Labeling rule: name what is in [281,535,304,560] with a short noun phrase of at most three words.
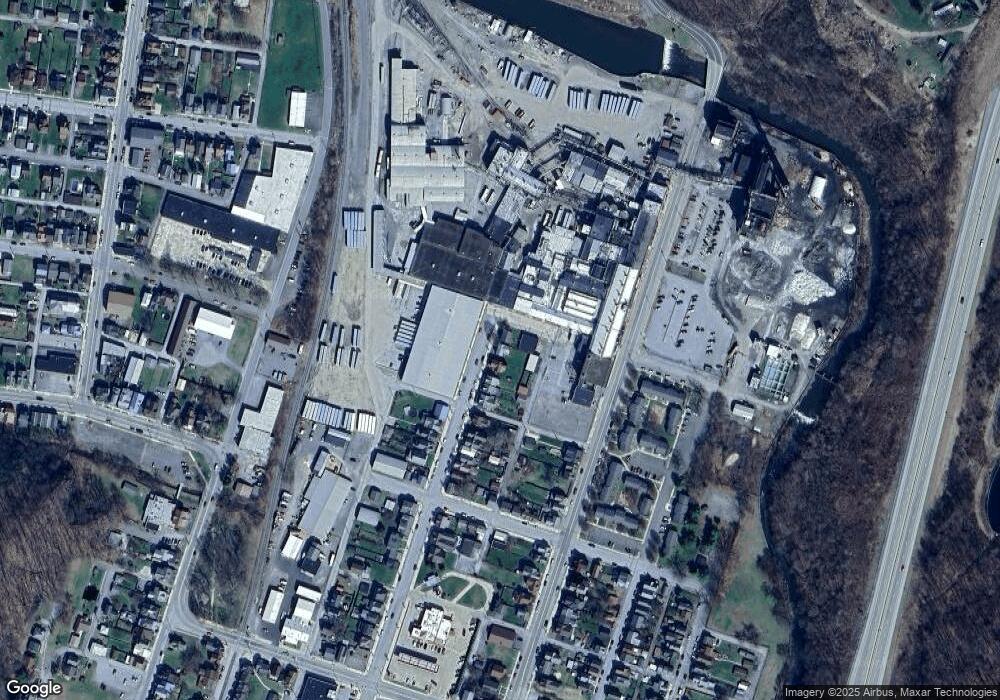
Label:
shed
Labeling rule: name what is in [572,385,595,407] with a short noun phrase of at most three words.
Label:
building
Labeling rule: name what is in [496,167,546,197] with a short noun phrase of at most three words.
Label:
building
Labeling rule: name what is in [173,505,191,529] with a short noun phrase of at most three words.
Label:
house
